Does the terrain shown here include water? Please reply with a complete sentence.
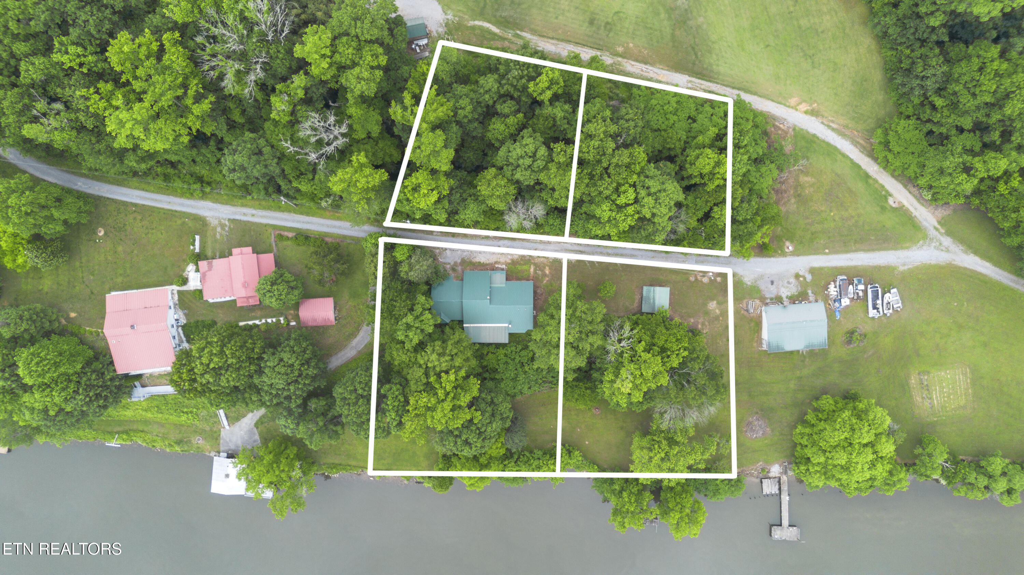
Yes, some water is visible.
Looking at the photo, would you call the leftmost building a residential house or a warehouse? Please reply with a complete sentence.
What you see as the leftmost building is a residential house.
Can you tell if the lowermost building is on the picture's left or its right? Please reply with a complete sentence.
The lowermost building appears in the left half of the scene.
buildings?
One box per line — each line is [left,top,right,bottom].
[199,247,277,306]
[211,456,271,500]
[299,297,336,326]
[641,286,670,313]
[103,288,176,375]
[758,302,827,353]
[431,264,533,343]
[409,16,428,41]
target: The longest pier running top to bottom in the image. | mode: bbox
[770,463,800,542]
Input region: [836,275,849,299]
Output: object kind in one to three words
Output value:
vehicle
